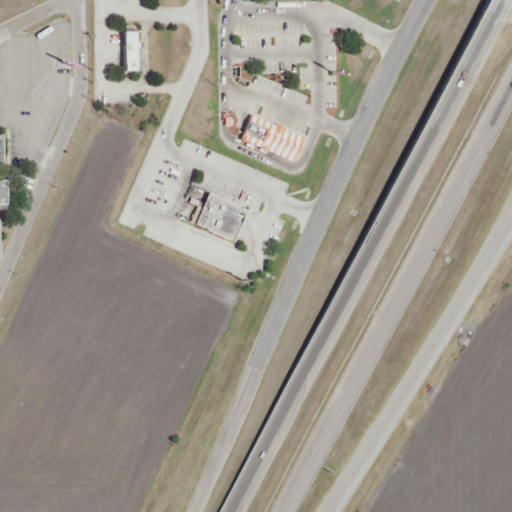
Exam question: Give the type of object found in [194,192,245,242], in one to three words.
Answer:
building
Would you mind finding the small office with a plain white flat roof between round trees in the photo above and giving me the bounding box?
[123,25,142,71]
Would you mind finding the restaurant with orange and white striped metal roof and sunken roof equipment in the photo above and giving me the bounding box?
[240,114,304,161]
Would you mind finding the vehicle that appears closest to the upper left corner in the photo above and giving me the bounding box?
[36,24,56,38]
